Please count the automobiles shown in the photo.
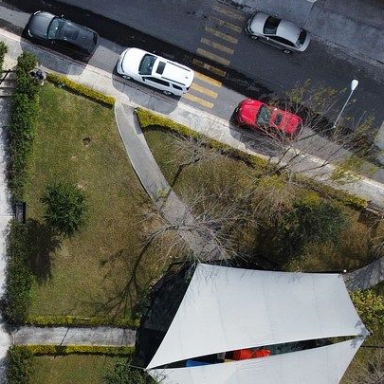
4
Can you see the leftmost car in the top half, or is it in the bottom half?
top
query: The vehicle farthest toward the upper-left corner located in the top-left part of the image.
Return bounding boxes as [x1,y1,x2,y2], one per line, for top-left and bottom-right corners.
[29,9,101,60]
